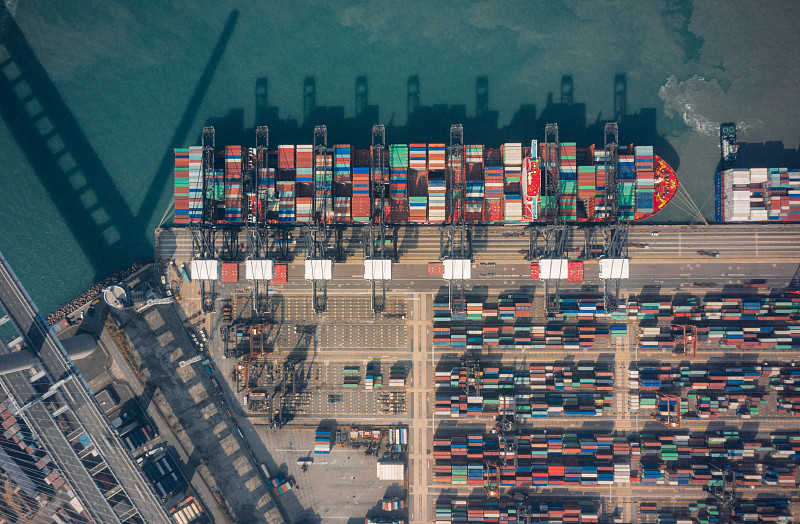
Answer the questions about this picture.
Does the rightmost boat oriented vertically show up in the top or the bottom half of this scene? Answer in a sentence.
The rightmost boat oriented vertically sits in the top half of the picture.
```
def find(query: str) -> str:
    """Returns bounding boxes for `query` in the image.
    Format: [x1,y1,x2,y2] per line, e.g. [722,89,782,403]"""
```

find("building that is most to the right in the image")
[378,460,404,480]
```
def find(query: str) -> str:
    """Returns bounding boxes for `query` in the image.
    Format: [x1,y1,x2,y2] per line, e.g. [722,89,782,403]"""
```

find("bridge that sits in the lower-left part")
[0,242,196,524]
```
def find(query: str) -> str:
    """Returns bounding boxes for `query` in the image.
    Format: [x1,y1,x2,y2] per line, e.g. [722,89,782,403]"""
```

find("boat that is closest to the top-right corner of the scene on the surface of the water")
[719,123,740,170]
